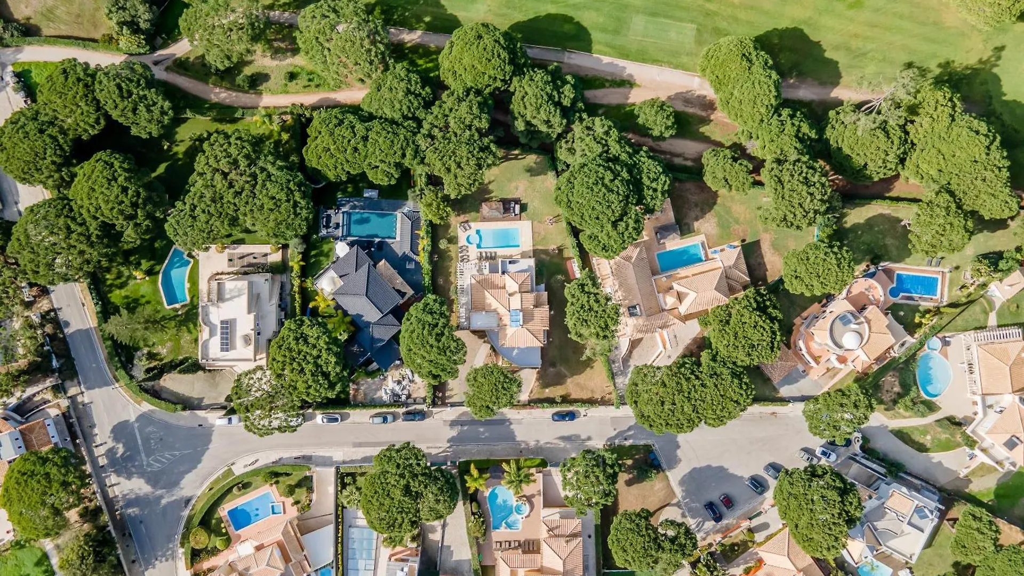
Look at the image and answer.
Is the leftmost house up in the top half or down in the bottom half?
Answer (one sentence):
Seen from above, the leftmost house lies in the bottom half of the view.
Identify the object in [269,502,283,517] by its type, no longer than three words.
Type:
swimming pool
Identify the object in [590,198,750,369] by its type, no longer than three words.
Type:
house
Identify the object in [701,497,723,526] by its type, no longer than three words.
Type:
car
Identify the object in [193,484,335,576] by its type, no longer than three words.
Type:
house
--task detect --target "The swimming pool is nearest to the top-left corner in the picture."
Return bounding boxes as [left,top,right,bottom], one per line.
[157,243,195,311]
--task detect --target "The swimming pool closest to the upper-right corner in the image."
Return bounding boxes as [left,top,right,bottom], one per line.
[887,270,943,301]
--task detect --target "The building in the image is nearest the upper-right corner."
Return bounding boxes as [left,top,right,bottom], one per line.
[982,267,1024,302]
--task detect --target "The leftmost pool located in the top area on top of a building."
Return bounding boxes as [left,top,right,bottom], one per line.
[340,209,399,240]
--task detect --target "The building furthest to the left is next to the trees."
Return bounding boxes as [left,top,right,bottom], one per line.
[0,380,84,488]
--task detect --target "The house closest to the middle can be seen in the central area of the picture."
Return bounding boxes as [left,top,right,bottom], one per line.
[456,221,549,367]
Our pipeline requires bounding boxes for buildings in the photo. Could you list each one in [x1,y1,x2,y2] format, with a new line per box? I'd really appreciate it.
[0,380,84,488]
[478,467,583,576]
[199,245,287,373]
[193,484,335,576]
[913,326,1024,471]
[827,451,944,576]
[789,264,946,387]
[315,199,422,370]
[982,267,1024,302]
[735,528,822,576]
[590,198,750,369]
[456,221,549,367]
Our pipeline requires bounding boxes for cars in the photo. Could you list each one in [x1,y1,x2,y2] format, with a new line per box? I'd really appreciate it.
[701,497,723,526]
[369,413,395,425]
[812,444,838,462]
[794,447,819,462]
[760,459,783,480]
[552,410,577,423]
[401,410,427,422]
[744,472,767,496]
[316,413,342,425]
[718,490,734,512]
